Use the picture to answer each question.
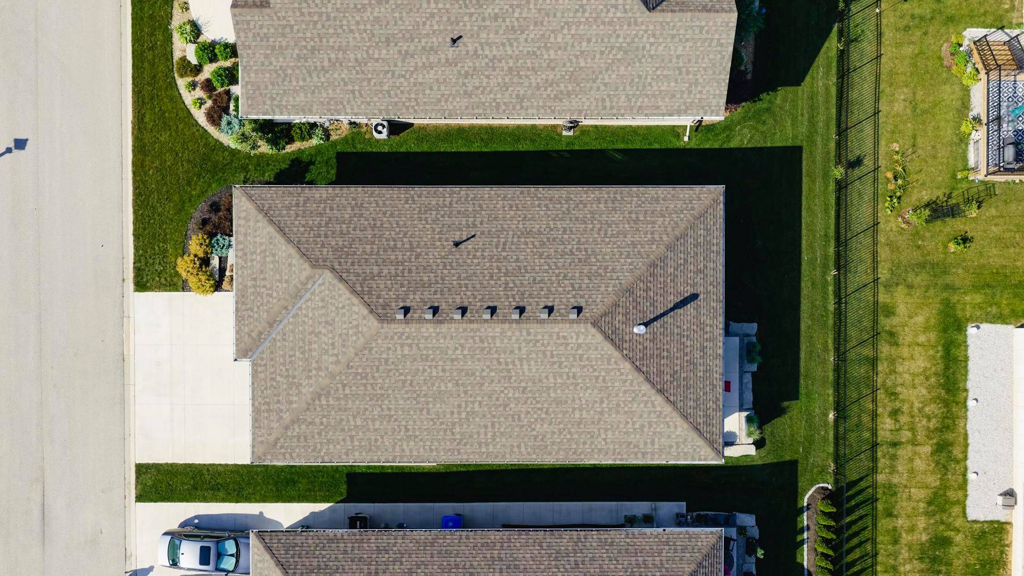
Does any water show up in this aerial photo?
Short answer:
No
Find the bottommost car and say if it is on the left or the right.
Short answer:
left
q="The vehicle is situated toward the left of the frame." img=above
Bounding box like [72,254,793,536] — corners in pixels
[156,527,251,576]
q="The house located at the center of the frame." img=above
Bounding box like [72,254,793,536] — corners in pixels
[235,187,724,463]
